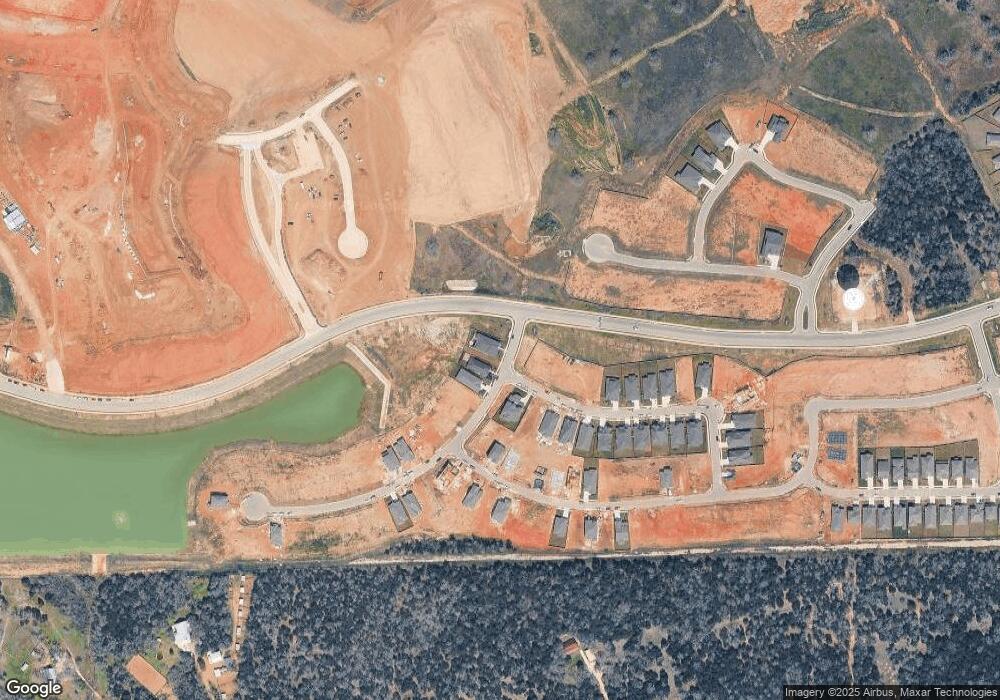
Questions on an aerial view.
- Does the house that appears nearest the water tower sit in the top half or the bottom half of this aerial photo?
top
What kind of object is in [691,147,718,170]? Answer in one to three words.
house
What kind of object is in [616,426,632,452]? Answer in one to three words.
house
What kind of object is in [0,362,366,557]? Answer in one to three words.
pond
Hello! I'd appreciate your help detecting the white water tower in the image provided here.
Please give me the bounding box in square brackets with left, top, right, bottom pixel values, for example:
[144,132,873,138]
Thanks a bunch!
[844,287,866,309]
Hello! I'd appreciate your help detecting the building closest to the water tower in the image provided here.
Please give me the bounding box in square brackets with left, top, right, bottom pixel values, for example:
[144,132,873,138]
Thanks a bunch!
[762,228,782,257]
